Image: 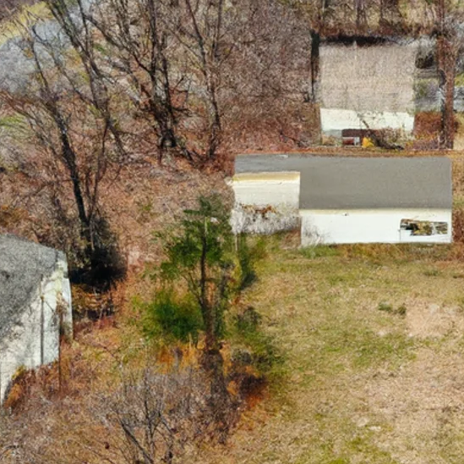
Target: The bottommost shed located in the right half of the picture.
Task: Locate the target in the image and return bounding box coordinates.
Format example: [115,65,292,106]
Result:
[227,152,458,244]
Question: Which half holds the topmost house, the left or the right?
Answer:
right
